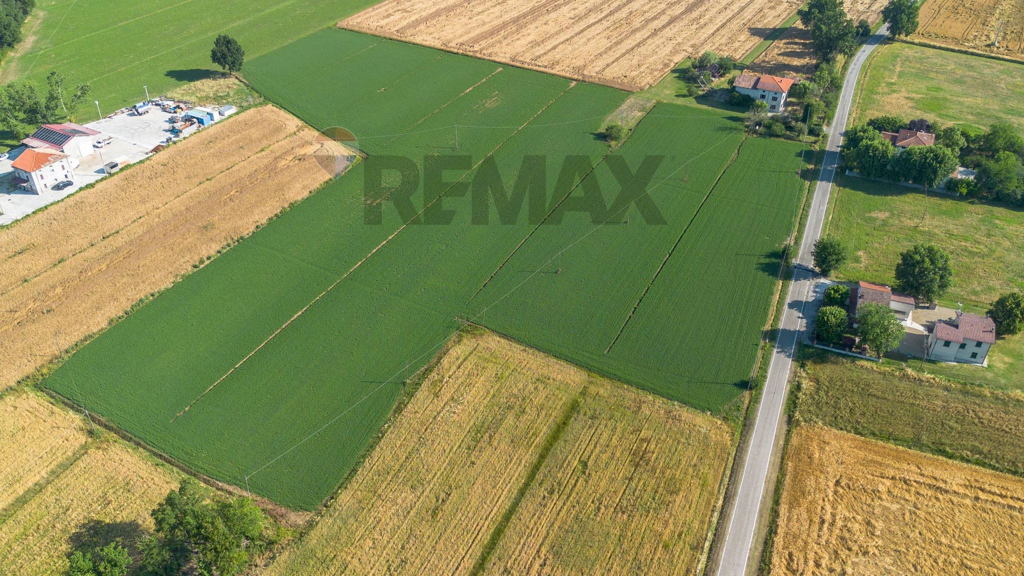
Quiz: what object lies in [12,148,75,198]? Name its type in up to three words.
house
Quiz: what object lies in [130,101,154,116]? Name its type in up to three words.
vehicle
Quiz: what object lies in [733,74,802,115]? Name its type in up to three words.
house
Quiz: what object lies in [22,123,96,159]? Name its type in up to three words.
shed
